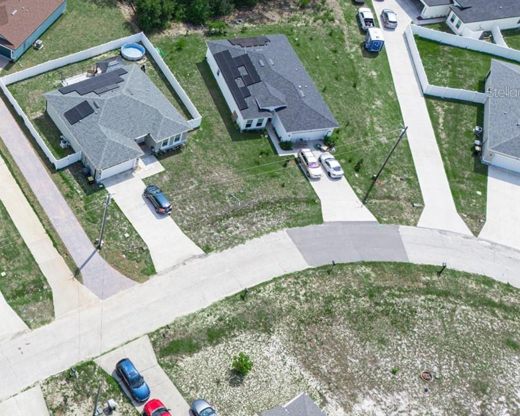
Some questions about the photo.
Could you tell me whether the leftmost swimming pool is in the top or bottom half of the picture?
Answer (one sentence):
The top half of the photo is where the leftmost swimming pool is.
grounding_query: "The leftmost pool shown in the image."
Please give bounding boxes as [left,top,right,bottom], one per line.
[120,40,147,63]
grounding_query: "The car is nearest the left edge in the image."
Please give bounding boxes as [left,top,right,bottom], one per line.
[113,356,152,405]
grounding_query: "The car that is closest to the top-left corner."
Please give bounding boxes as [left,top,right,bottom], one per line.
[141,182,176,216]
